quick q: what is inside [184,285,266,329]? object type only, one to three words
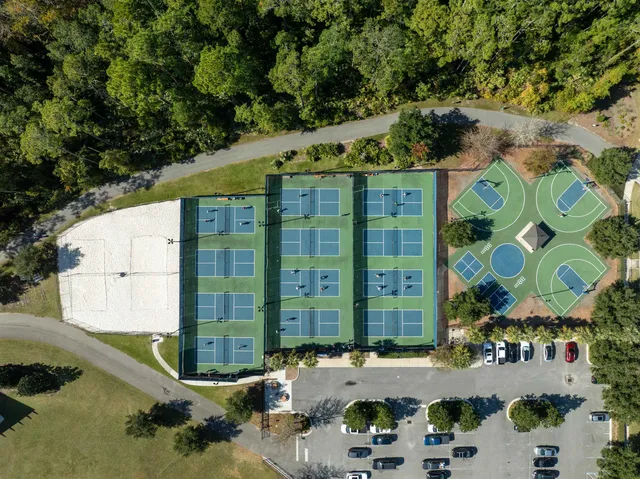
sports court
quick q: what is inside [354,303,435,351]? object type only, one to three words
sports court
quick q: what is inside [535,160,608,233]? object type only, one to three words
basketball court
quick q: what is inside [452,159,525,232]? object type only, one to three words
basketball court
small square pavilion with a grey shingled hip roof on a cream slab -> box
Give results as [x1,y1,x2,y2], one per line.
[515,221,549,253]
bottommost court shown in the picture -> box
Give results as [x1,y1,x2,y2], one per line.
[183,329,266,375]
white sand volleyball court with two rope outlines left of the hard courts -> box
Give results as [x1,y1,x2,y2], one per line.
[57,198,183,336]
